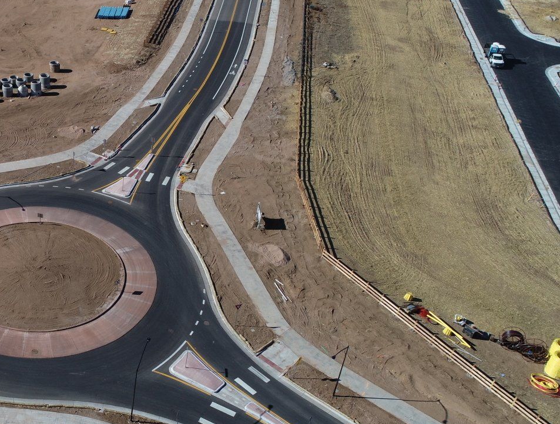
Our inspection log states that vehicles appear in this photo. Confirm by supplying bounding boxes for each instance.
[488,47,507,68]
